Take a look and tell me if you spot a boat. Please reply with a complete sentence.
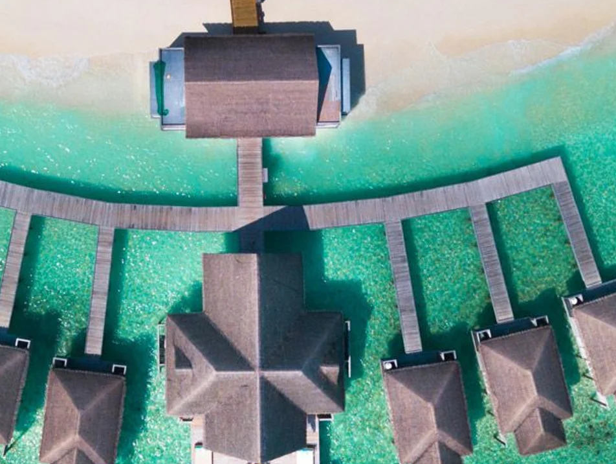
No, there's no boat here.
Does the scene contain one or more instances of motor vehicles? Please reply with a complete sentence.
No, I can't see a single motor vehicle in this photo.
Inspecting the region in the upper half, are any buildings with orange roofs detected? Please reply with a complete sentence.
No, no building with an orange roof can be made out in the upper half.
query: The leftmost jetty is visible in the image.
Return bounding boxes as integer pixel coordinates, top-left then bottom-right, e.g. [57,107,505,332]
[0,208,33,335]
